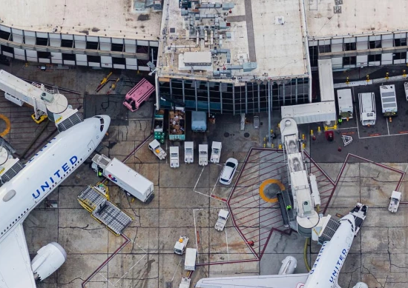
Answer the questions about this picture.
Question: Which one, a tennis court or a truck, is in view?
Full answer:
The image shows a truck.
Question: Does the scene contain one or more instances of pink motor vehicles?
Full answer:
Yes, this view includes a pink motor vehicle.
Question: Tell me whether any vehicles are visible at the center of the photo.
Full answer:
Yes, at the center of the photo there is a vehicle.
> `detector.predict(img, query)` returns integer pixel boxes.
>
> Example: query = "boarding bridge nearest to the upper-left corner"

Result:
[0,69,87,128]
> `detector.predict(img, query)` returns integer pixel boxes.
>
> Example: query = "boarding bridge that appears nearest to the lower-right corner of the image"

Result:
[270,116,341,246]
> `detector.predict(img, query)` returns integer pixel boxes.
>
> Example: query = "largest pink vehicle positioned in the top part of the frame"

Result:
[122,82,155,113]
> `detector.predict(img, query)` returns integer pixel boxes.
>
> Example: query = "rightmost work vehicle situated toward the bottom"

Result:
[388,189,402,215]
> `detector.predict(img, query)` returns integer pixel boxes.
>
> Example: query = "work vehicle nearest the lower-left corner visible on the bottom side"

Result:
[75,183,134,240]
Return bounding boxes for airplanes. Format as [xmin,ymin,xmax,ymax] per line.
[193,211,371,288]
[0,112,111,288]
